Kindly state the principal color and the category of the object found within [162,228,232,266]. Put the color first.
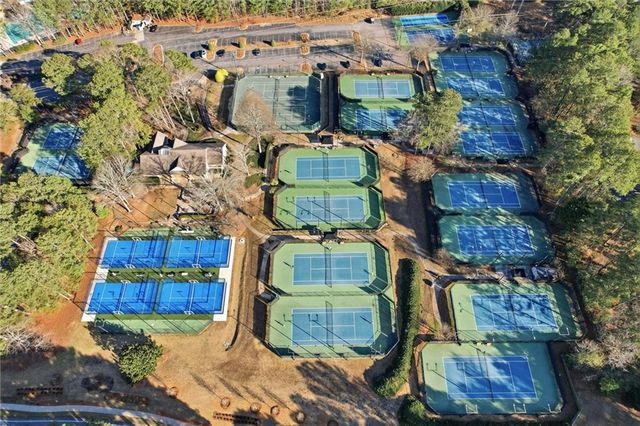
blue sports court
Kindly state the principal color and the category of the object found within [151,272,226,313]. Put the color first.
blue sports court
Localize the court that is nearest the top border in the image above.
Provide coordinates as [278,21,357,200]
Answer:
[391,11,461,29]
